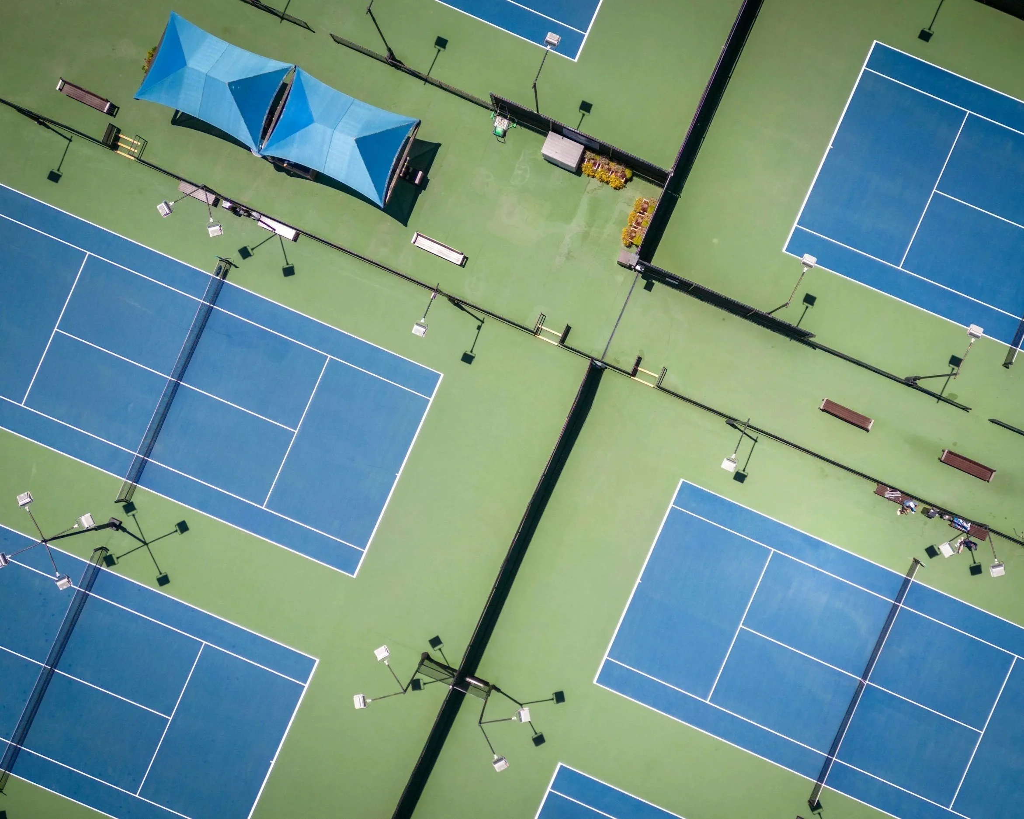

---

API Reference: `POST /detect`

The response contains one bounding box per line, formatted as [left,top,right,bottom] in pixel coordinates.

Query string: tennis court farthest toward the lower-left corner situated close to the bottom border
[0,524,315,819]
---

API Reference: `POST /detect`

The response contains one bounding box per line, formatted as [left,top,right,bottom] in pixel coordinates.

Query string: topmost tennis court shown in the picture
[432,0,601,60]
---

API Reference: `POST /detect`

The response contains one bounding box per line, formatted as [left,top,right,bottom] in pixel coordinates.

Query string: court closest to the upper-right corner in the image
[784,41,1024,352]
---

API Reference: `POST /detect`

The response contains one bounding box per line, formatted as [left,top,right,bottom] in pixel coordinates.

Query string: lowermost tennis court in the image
[537,764,685,819]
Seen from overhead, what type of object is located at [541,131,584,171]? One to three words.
shed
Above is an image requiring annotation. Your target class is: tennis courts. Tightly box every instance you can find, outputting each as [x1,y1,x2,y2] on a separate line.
[432,0,601,60]
[537,764,685,819]
[0,524,315,819]
[784,41,1024,352]
[594,481,1024,819]
[0,185,443,579]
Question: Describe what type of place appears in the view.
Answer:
sports ground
